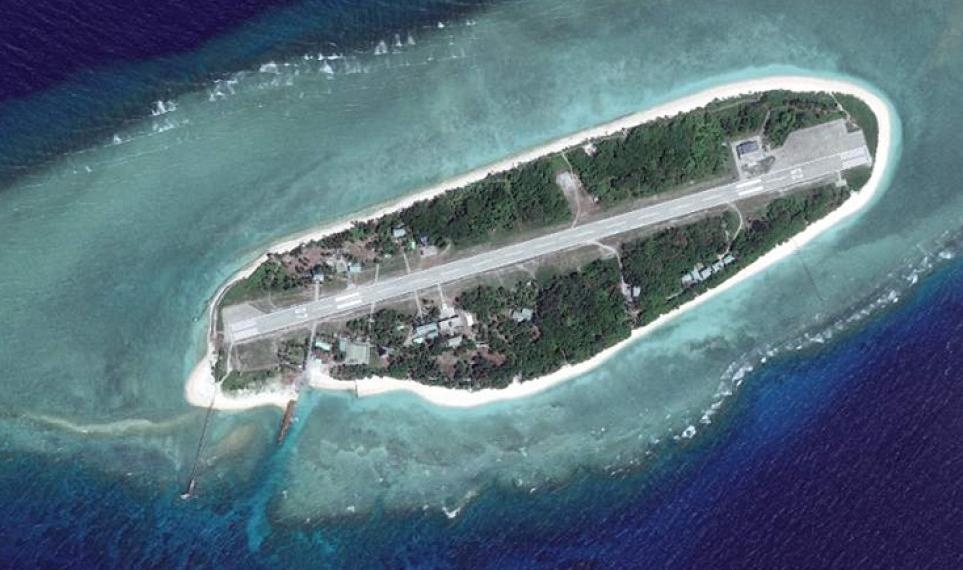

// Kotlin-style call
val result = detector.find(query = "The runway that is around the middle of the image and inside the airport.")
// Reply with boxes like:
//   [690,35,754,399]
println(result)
[229,146,869,340]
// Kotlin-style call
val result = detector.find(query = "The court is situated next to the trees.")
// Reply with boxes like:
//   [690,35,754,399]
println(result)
[346,343,370,364]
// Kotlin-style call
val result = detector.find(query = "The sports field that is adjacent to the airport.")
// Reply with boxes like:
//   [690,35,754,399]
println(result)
[241,337,277,369]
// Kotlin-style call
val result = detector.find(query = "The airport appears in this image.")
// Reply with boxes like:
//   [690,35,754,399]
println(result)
[223,119,872,345]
